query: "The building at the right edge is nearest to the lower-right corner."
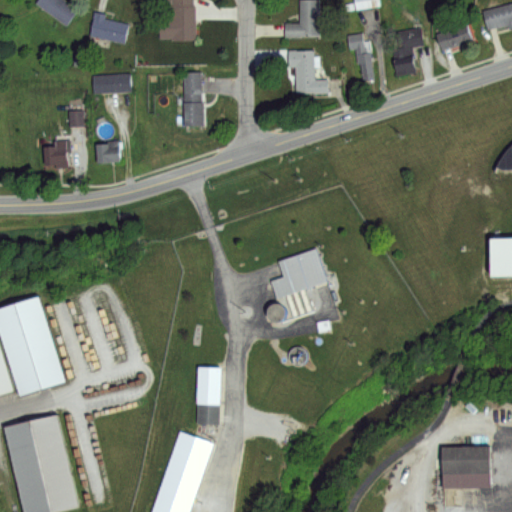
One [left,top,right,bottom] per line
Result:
[440,444,492,488]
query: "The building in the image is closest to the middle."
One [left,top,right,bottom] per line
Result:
[271,249,328,298]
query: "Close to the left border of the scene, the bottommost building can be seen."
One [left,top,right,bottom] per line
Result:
[4,415,80,512]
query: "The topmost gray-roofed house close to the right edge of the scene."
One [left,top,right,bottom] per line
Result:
[483,3,512,31]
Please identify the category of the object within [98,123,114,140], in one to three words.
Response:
swimming pool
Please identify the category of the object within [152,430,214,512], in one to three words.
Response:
shed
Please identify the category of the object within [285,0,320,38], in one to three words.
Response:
house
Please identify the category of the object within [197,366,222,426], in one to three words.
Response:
building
